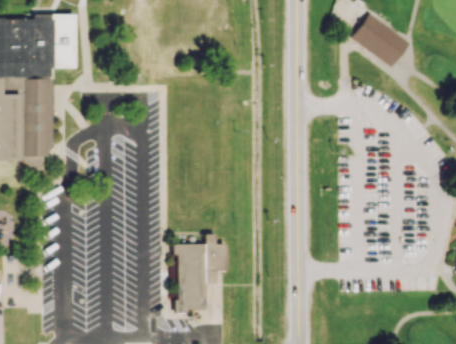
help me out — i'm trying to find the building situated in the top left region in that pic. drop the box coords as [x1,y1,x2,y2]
[0,14,79,170]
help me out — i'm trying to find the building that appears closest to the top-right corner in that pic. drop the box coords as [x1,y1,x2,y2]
[352,12,410,67]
